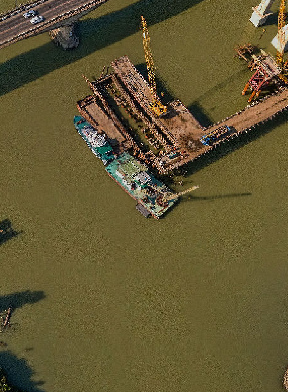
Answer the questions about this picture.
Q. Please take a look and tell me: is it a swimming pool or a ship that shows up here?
ship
